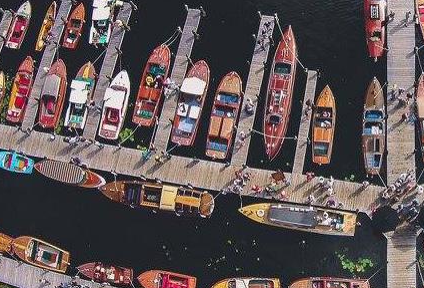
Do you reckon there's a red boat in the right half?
Yes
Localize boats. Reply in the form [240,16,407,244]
[205,70,243,162]
[62,2,86,50]
[98,175,222,215]
[75,260,133,288]
[136,269,198,288]
[291,268,386,288]
[0,70,7,114]
[11,237,72,272]
[5,56,34,123]
[416,0,424,50]
[238,199,360,236]
[168,57,213,155]
[0,231,22,262]
[118,30,178,147]
[99,52,130,142]
[412,51,424,184]
[89,0,115,46]
[363,77,387,186]
[362,0,387,65]
[306,84,337,173]
[6,0,31,50]
[0,150,36,175]
[33,159,107,190]
[65,61,111,130]
[35,58,68,130]
[211,276,280,288]
[246,16,306,161]
[37,1,57,51]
